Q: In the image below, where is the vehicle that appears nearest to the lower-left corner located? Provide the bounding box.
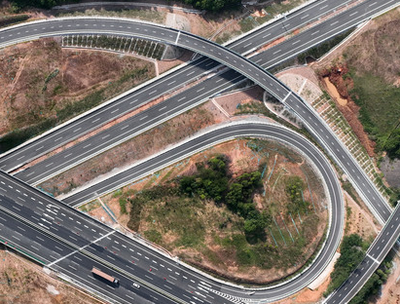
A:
[93,269,117,283]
